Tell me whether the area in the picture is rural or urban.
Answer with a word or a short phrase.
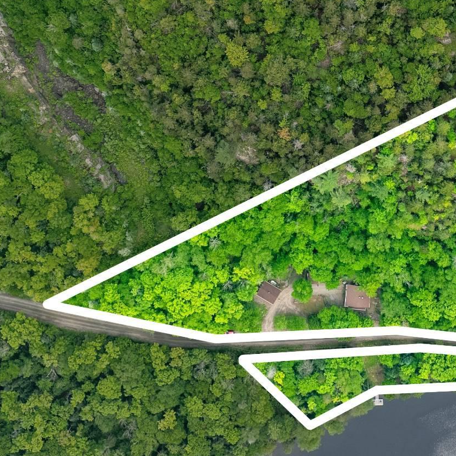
rural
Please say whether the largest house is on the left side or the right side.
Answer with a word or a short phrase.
right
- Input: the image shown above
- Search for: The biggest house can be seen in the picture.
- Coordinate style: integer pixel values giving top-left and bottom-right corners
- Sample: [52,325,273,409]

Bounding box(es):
[345,284,371,312]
